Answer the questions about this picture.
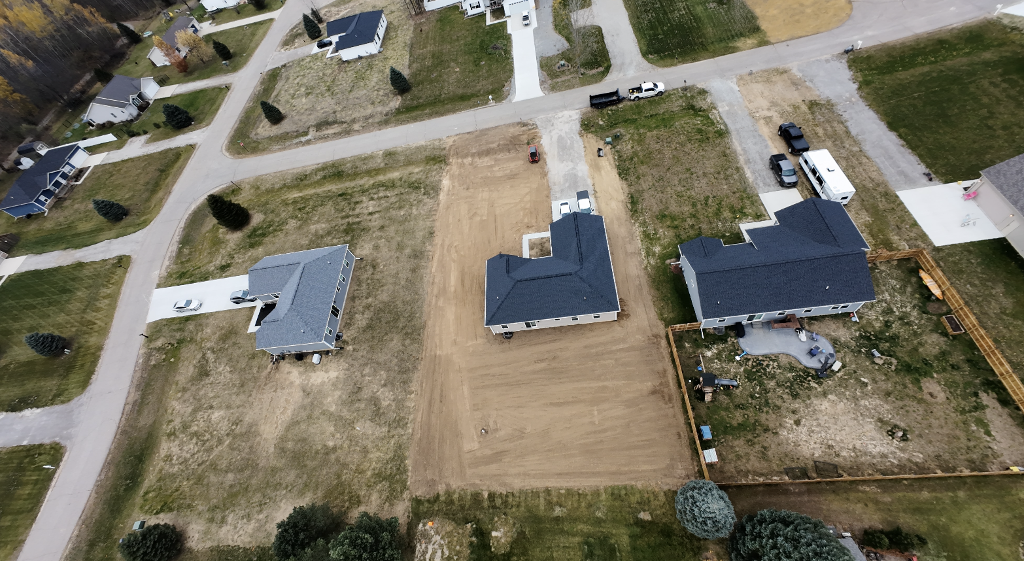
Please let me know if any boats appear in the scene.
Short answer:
Yes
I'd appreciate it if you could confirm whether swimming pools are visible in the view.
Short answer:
No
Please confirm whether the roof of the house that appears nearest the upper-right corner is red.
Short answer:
No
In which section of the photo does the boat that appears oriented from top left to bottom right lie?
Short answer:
right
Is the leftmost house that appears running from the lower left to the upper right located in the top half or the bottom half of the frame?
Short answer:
top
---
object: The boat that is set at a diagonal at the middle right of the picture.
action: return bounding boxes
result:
[914,268,938,300]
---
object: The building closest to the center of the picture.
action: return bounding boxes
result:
[484,211,620,339]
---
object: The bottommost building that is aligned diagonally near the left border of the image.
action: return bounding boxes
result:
[1,144,92,215]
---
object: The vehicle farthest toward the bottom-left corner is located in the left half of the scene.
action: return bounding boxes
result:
[172,298,199,314]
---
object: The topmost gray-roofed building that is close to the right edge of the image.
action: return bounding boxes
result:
[965,155,1024,257]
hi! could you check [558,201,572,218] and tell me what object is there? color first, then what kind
white car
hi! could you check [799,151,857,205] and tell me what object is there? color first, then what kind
white vehicle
